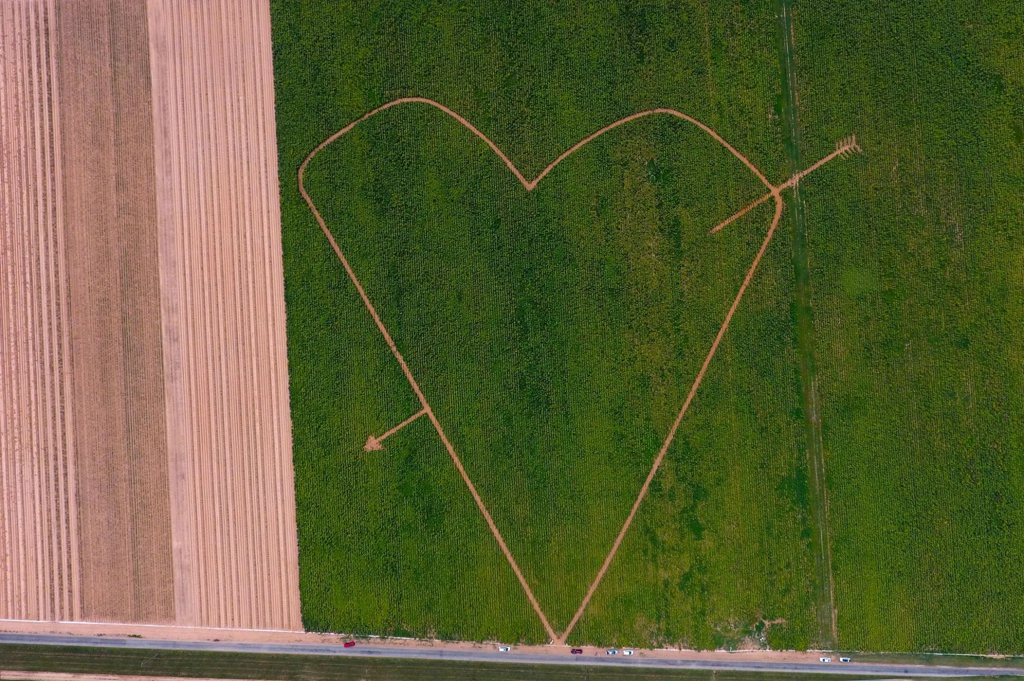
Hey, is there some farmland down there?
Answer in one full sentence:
Yes, the picture does contain farmland.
